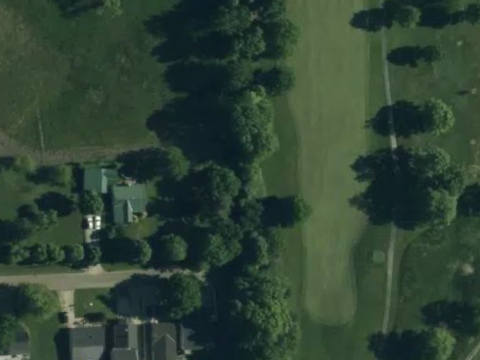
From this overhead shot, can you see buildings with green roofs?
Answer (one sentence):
Yes, there's a building with a green roof here.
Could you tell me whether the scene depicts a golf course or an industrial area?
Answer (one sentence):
The picture captures a golf course.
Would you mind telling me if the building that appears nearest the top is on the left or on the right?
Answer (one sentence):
It is on the left.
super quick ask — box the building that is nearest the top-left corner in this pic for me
[84,166,117,193]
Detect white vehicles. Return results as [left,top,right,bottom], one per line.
[87,216,93,229]
[95,216,100,228]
